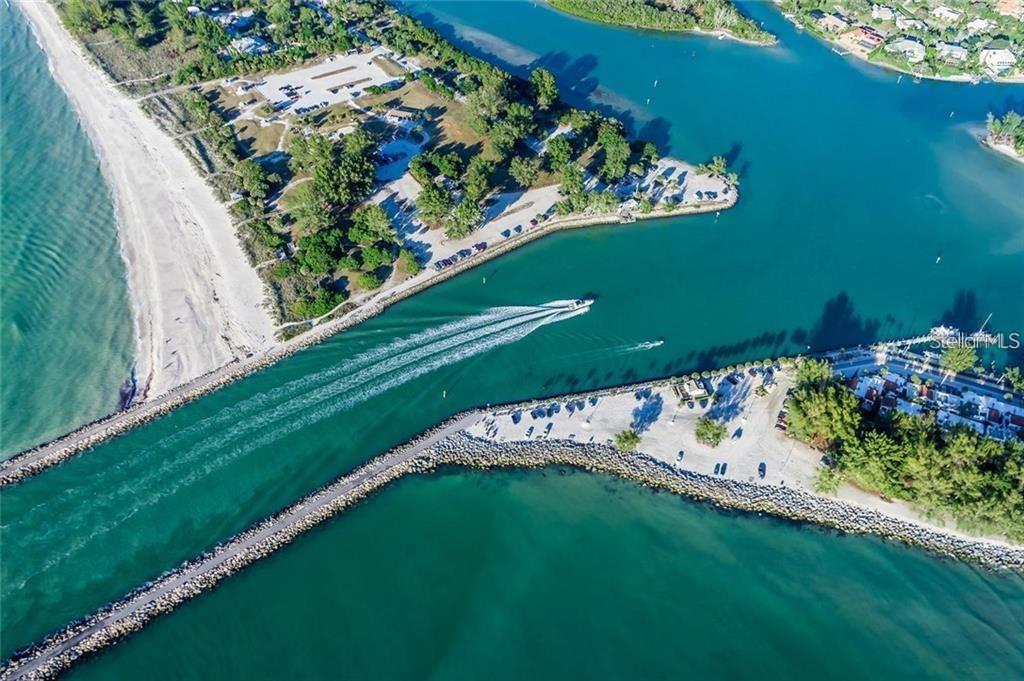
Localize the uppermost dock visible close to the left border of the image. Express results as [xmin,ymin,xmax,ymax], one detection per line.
[0,355,262,485]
